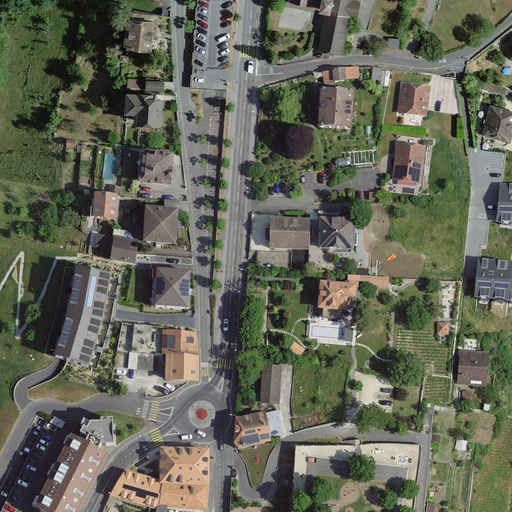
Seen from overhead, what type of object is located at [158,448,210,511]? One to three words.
house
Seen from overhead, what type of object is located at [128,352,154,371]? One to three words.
building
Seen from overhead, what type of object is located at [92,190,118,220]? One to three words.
house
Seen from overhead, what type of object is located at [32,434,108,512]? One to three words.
building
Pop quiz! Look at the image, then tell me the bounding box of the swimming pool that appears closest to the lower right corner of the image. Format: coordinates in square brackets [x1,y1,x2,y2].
[308,318,356,345]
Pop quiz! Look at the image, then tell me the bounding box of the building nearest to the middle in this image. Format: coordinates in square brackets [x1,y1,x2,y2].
[257,251,290,268]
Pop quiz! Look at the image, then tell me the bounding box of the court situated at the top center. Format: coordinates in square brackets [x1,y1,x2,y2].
[279,8,311,30]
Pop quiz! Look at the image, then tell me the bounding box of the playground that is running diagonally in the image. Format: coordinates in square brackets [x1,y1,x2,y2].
[328,484,364,512]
